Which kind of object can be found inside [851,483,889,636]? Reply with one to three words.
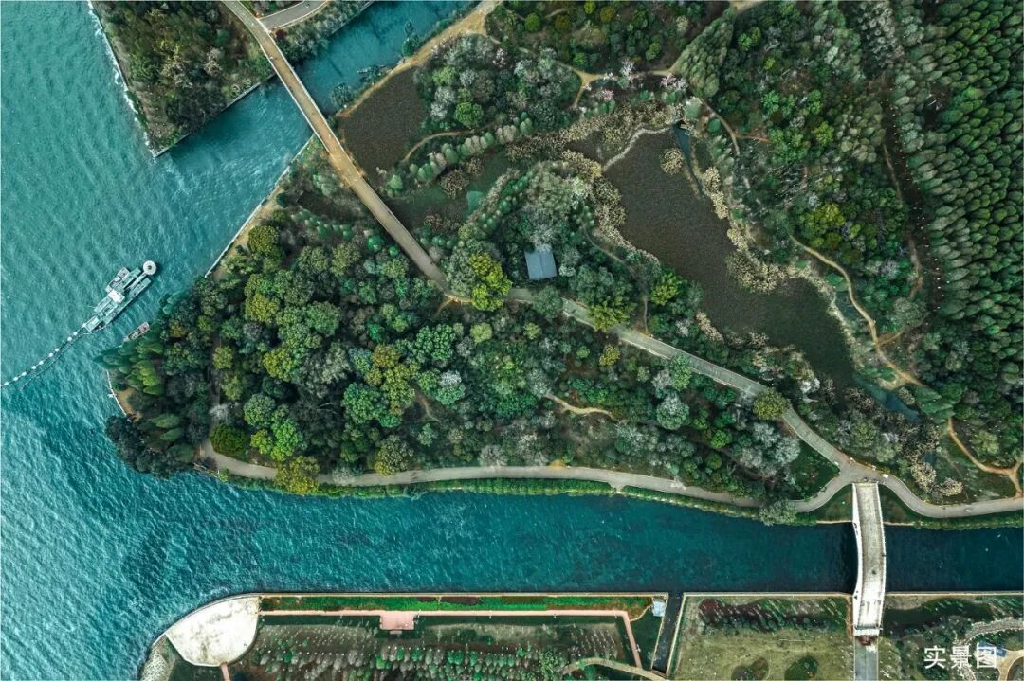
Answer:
bridge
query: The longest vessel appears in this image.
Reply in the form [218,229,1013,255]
[86,260,156,332]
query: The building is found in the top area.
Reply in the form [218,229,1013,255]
[525,246,558,280]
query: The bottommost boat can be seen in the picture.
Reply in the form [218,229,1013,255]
[127,322,150,342]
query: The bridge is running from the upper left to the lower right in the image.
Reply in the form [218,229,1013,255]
[270,51,370,192]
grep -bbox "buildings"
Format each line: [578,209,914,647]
[525,246,558,280]
[653,601,667,619]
